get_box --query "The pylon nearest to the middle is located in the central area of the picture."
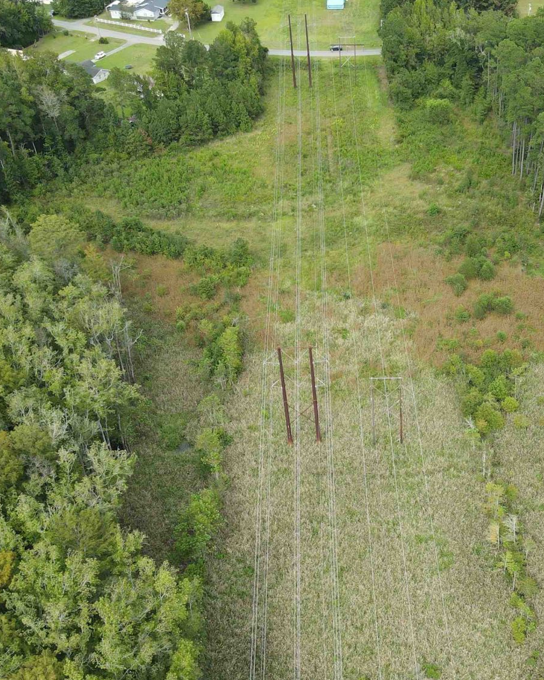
[262,346,328,443]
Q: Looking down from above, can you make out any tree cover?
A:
Yes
